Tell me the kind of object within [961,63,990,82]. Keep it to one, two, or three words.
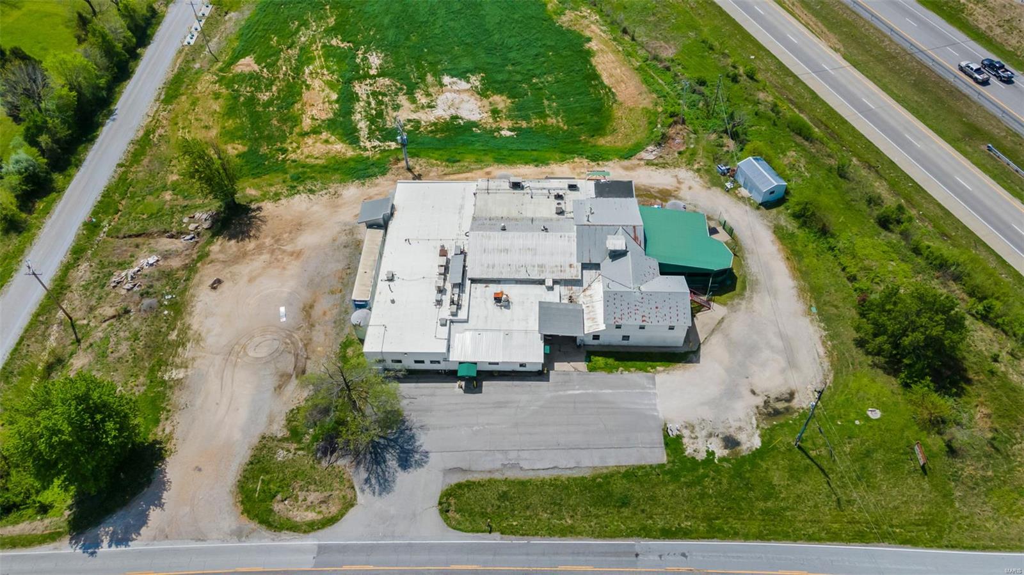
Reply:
vehicle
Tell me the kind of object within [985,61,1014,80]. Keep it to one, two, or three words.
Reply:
vehicle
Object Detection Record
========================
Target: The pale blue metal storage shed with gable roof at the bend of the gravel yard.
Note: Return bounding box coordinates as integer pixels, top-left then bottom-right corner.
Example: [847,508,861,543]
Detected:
[742,158,791,203]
